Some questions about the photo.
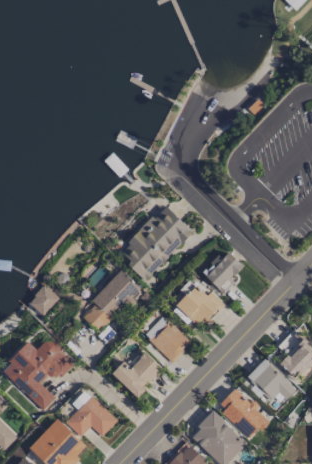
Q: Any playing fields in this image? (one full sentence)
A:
No, I can't see a single playing field in this photo.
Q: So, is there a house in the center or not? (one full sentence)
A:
Yes, a house appears in the center.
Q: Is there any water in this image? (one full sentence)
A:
Yes, there is water in the image.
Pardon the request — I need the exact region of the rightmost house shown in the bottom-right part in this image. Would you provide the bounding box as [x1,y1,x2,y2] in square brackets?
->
[280,334,312,376]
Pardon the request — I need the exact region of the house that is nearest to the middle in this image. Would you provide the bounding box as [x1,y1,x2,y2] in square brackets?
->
[122,206,193,281]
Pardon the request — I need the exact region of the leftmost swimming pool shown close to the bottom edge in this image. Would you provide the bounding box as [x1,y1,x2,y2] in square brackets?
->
[241,451,256,464]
